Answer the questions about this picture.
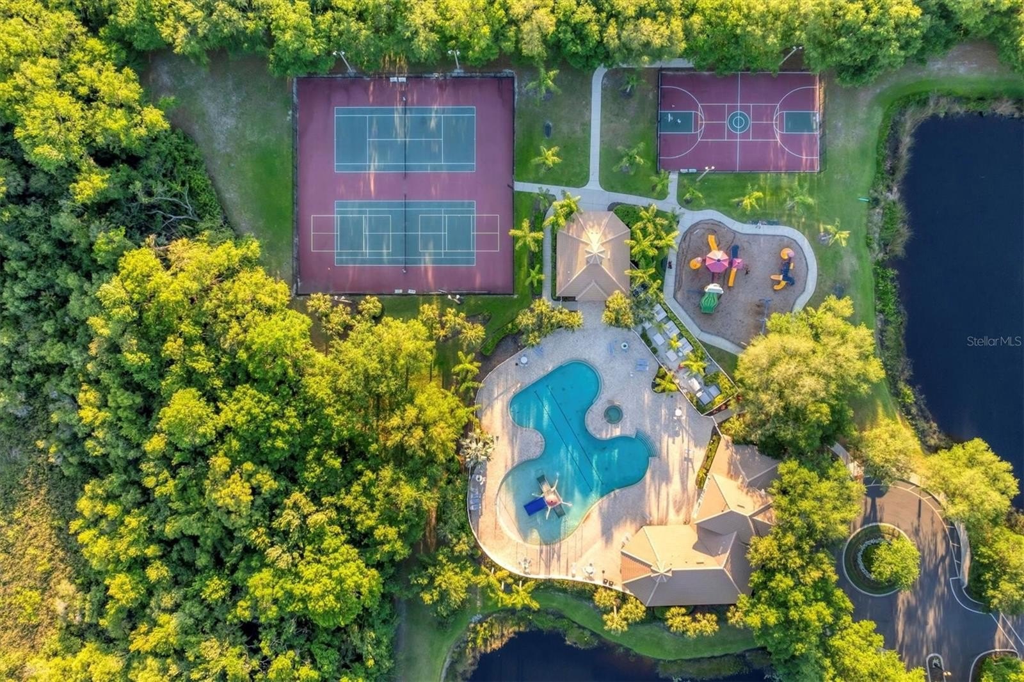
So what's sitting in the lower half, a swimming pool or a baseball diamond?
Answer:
swimming pool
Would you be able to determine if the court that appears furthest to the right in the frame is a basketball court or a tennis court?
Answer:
basketball court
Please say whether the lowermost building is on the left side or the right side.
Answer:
right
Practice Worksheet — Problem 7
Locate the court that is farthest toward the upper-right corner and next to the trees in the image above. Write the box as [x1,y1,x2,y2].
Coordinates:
[659,72,820,172]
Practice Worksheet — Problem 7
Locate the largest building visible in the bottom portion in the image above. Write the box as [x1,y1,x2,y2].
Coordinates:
[620,435,776,607]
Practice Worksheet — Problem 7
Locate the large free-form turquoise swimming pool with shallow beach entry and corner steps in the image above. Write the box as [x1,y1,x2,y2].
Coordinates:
[495,359,660,548]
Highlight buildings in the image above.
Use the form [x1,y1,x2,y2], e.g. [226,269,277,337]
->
[620,435,776,607]
[556,211,631,301]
